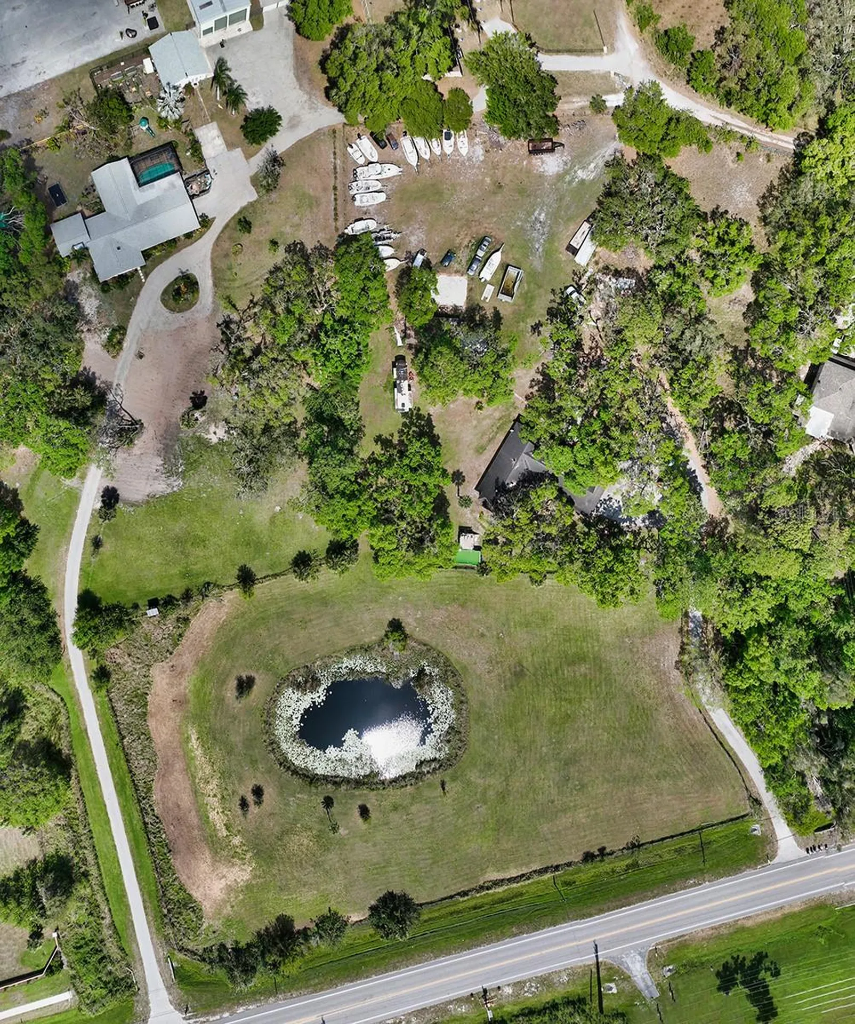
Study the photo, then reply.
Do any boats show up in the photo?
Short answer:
Yes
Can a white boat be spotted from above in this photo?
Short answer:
Yes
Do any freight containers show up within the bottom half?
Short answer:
No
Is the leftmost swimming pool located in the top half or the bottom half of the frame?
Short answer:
top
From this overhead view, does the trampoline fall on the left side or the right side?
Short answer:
left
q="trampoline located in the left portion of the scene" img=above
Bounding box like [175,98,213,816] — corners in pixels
[47,183,69,207]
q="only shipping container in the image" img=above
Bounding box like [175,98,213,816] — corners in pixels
[496,266,523,303]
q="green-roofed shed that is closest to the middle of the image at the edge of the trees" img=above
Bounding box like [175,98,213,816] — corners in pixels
[454,551,481,566]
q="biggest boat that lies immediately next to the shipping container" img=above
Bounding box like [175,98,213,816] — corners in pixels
[477,252,500,283]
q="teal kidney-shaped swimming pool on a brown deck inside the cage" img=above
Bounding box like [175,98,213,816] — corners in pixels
[130,143,182,185]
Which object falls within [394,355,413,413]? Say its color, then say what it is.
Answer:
white camper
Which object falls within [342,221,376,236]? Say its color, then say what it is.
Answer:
white boat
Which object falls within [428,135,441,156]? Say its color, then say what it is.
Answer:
white boat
